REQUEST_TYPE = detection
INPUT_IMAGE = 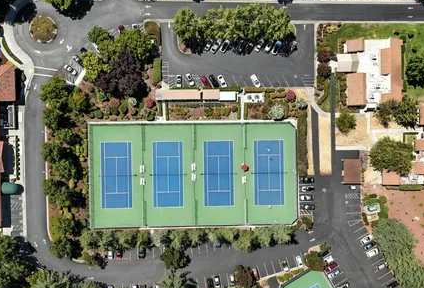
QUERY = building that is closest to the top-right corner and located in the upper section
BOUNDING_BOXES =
[335,36,403,111]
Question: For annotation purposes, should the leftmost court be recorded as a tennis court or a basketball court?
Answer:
tennis court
